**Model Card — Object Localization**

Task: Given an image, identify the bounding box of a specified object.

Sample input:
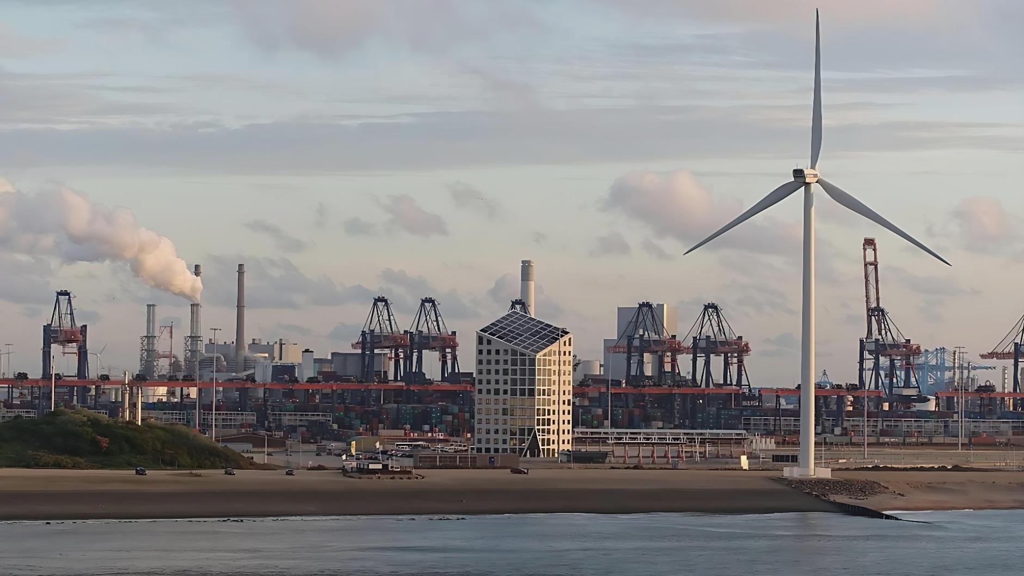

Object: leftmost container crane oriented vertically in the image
[43,286,86,401]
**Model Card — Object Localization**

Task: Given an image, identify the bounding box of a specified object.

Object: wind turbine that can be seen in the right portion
[680,9,957,475]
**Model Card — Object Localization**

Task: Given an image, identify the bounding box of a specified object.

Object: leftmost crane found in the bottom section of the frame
[0,371,40,398]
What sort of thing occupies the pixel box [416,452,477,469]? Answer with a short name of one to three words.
building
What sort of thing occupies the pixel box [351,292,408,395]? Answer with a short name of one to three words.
container crane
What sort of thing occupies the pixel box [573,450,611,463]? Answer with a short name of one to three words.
building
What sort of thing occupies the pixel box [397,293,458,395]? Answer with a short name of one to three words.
container crane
